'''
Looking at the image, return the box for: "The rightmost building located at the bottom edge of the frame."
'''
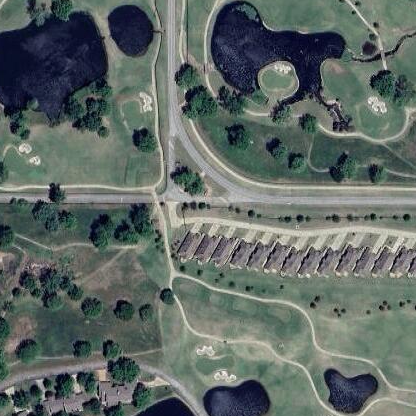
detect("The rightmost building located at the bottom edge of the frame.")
[100,382,136,405]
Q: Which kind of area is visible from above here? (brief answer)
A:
golf course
